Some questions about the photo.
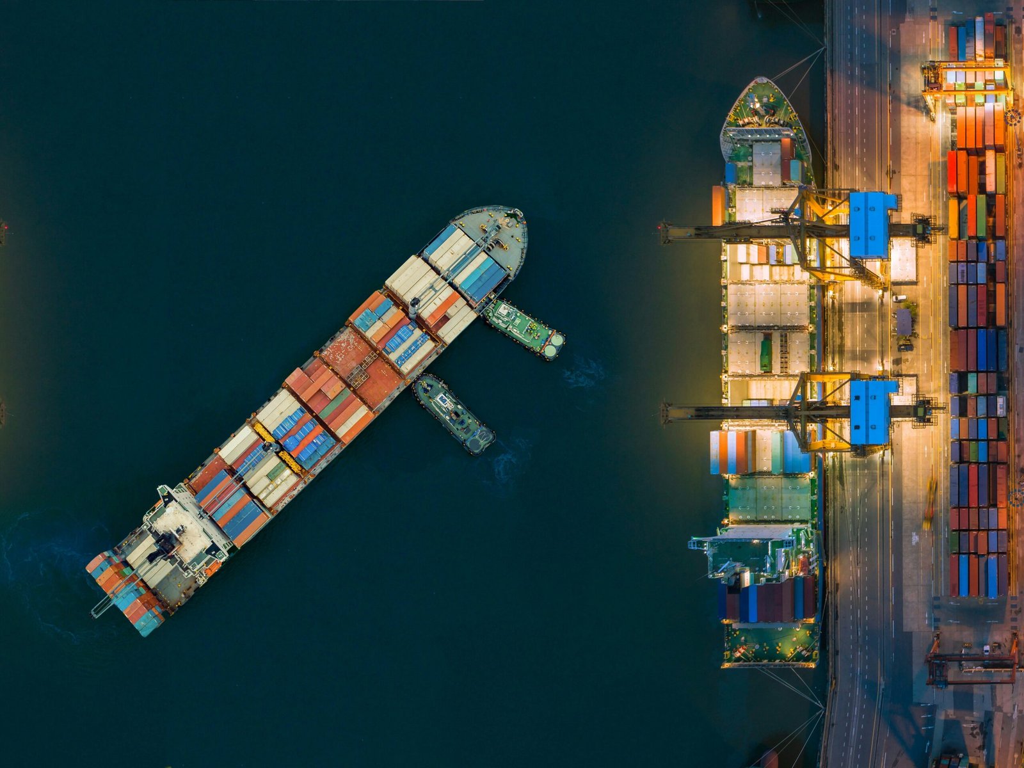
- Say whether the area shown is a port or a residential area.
port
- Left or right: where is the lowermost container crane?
right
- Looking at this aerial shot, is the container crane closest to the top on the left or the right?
right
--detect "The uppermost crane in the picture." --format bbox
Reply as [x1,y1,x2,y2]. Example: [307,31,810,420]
[921,61,1012,124]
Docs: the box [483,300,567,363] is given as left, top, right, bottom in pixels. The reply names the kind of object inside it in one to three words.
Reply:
boat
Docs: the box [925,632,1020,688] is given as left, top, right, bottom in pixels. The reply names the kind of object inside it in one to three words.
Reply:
container crane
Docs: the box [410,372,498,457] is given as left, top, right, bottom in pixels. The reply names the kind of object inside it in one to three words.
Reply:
boat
